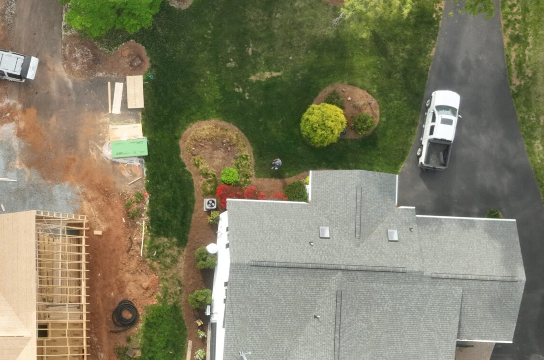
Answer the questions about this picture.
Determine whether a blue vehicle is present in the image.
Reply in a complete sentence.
No, the frame has no blue vehicle in it.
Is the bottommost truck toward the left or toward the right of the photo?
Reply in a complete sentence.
It is on the right.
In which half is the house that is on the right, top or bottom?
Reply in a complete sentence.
Seen from above, the house that is on the right lies in the bottom half of the view.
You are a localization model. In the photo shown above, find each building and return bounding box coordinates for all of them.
[192,169,525,360]
[0,210,89,360]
